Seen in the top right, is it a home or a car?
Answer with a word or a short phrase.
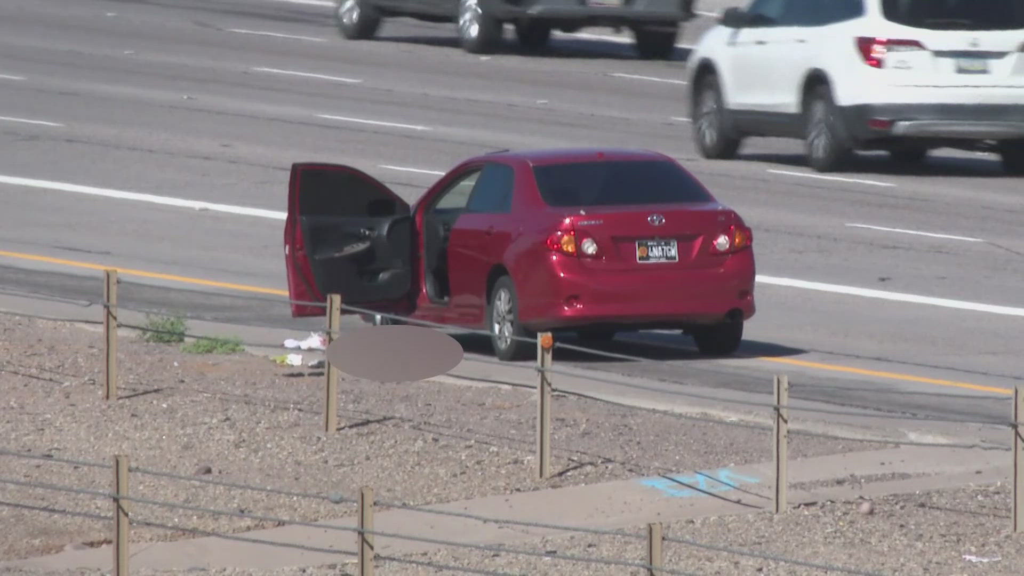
car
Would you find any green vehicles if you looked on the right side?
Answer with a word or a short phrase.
No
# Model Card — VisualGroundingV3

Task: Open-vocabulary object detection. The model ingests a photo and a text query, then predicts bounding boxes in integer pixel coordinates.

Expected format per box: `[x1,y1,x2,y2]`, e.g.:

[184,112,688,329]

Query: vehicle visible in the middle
[286,148,757,361]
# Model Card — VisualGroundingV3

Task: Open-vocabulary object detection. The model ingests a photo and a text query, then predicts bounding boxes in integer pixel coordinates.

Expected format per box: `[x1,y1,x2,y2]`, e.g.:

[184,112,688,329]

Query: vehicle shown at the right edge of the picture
[687,0,1024,174]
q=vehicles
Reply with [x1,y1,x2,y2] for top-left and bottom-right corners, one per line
[286,148,757,361]
[687,0,1024,174]
[336,0,706,56]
